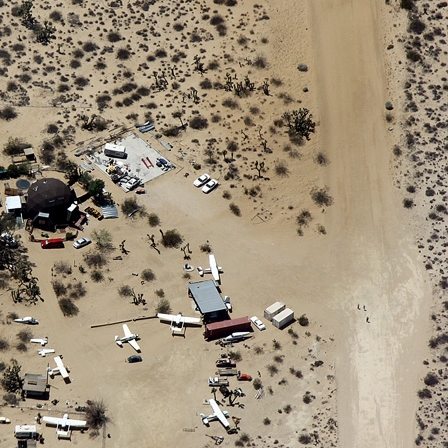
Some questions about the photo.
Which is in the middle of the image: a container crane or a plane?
plane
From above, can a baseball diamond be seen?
No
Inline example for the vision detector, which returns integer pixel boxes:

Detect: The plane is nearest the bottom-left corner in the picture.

[42,415,86,440]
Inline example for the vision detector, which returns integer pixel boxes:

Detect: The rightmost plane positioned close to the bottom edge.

[198,398,228,427]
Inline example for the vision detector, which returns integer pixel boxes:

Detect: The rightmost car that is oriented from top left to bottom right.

[249,316,267,330]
